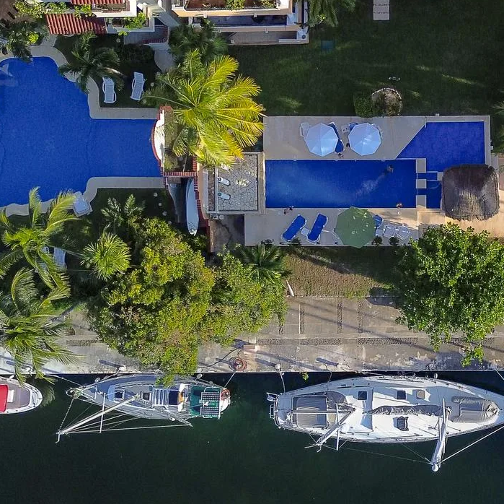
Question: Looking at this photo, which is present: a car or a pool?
pool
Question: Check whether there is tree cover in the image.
Yes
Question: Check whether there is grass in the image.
Yes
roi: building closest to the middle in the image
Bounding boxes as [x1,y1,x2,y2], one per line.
[207,154,266,246]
